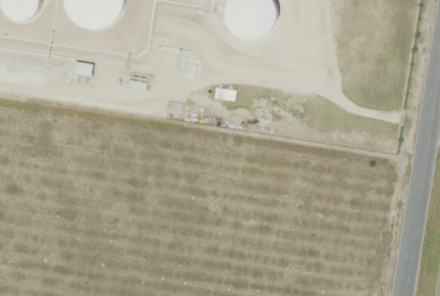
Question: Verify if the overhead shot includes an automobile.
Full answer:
No, I can't see a single automobile in this photo.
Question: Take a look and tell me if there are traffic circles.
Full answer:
No, there is no traffic circle in the image.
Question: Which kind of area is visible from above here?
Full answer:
The area seen from above is an industrial area.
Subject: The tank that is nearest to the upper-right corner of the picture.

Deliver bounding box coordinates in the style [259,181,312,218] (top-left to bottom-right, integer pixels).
[224,0,279,42]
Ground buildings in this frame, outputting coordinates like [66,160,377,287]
[215,88,238,102]
[72,62,94,77]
